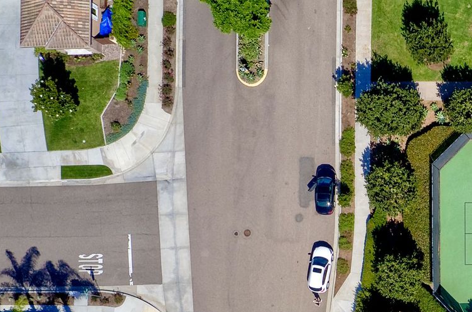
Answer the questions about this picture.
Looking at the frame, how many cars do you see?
2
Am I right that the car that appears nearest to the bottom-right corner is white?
Yes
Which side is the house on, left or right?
left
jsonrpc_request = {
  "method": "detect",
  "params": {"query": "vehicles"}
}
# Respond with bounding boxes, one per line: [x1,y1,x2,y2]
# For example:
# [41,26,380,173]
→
[307,241,334,291]
[305,164,336,214]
